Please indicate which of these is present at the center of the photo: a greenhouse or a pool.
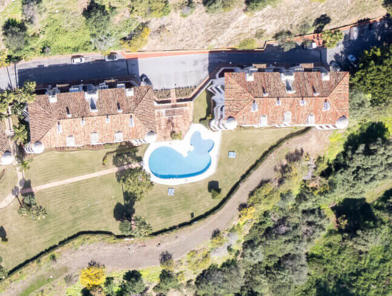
pool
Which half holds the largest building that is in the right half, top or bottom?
top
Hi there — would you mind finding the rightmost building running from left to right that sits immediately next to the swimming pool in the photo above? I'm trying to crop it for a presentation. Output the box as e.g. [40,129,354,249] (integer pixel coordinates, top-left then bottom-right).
[202,61,350,137]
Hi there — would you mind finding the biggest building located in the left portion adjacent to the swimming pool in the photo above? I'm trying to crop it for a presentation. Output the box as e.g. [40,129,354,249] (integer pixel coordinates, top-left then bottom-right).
[15,76,159,159]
